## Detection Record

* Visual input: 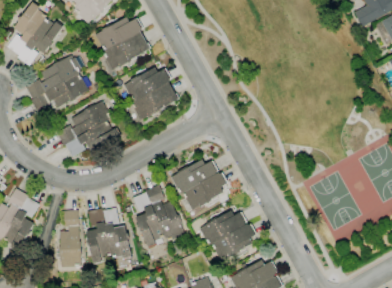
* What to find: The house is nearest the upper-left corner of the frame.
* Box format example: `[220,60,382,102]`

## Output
[8,1,64,65]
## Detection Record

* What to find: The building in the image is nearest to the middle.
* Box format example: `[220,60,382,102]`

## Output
[173,157,228,210]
